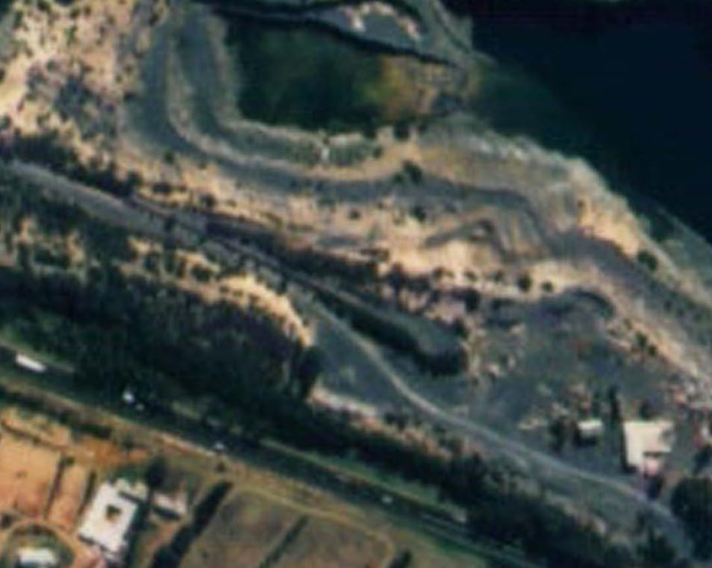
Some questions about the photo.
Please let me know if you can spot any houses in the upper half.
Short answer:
No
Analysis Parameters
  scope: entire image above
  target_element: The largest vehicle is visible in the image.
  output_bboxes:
[14,356,42,369]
